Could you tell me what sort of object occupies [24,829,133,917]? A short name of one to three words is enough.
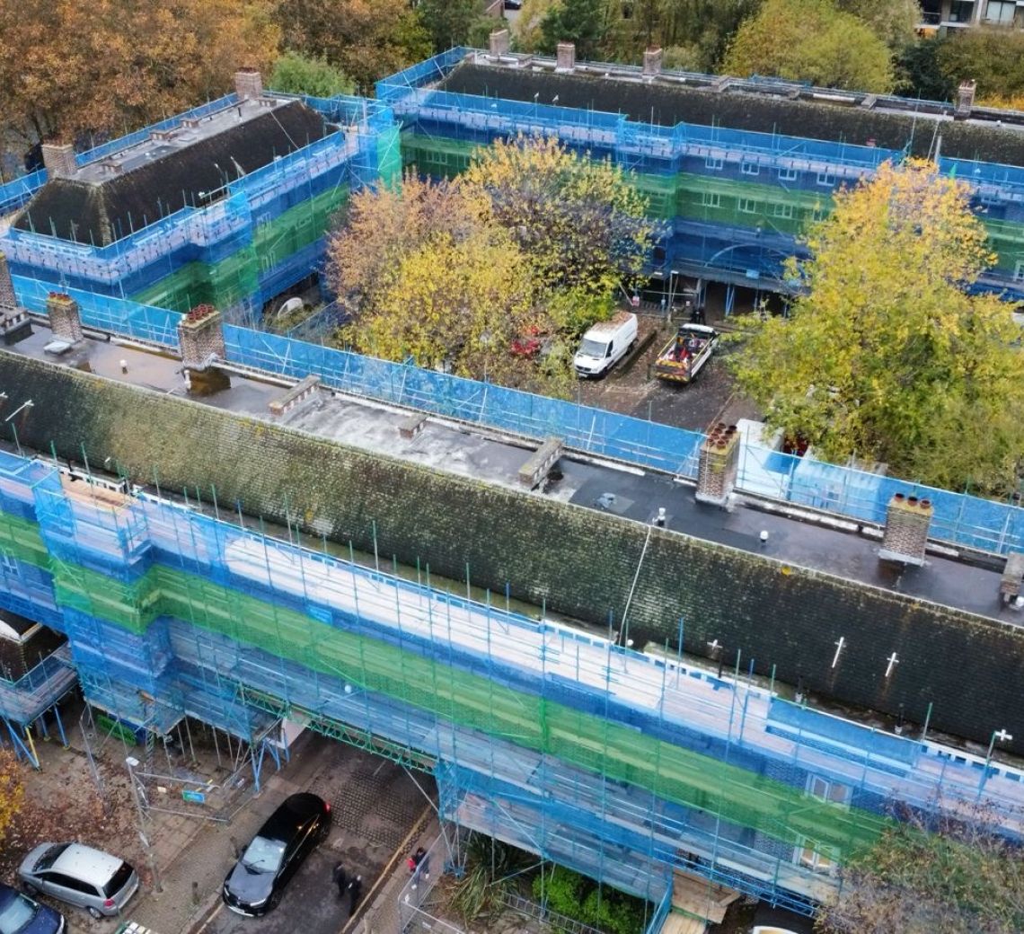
car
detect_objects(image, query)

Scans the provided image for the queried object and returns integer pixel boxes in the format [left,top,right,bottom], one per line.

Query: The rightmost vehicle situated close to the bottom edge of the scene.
[228,791,341,908]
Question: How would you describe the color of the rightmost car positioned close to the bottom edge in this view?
black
